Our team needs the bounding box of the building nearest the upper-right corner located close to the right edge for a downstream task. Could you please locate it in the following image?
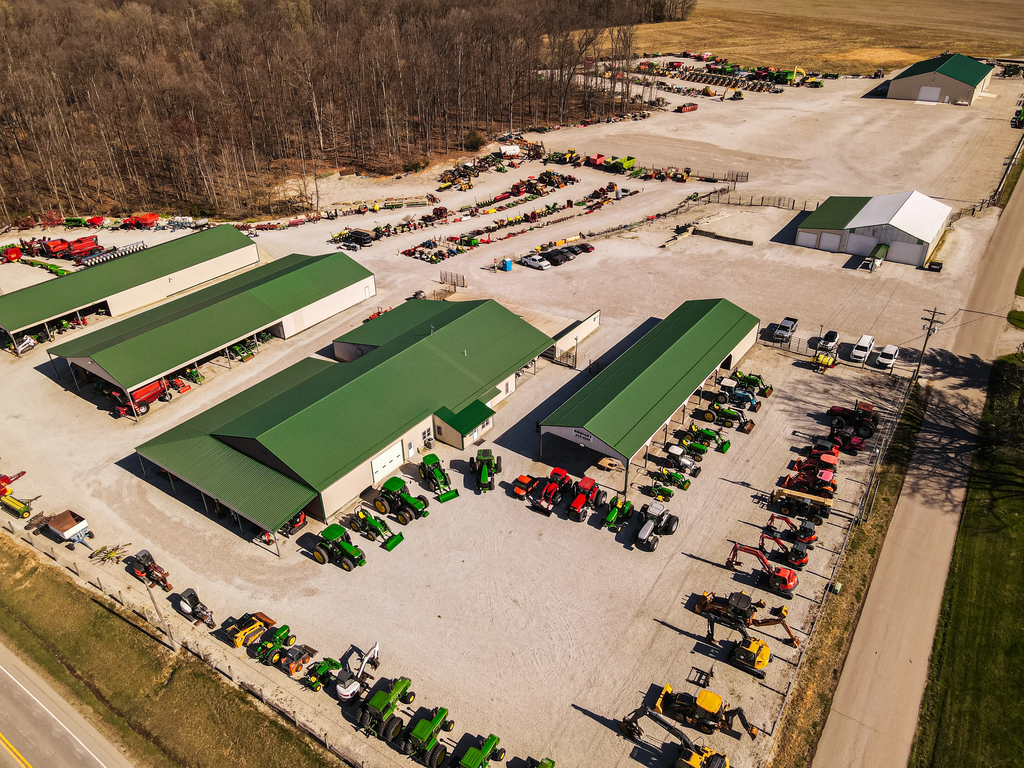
[887,53,993,105]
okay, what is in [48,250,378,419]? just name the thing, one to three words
shed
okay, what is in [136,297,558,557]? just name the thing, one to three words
building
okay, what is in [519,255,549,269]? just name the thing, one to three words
vehicle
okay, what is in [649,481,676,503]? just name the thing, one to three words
work vehicle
